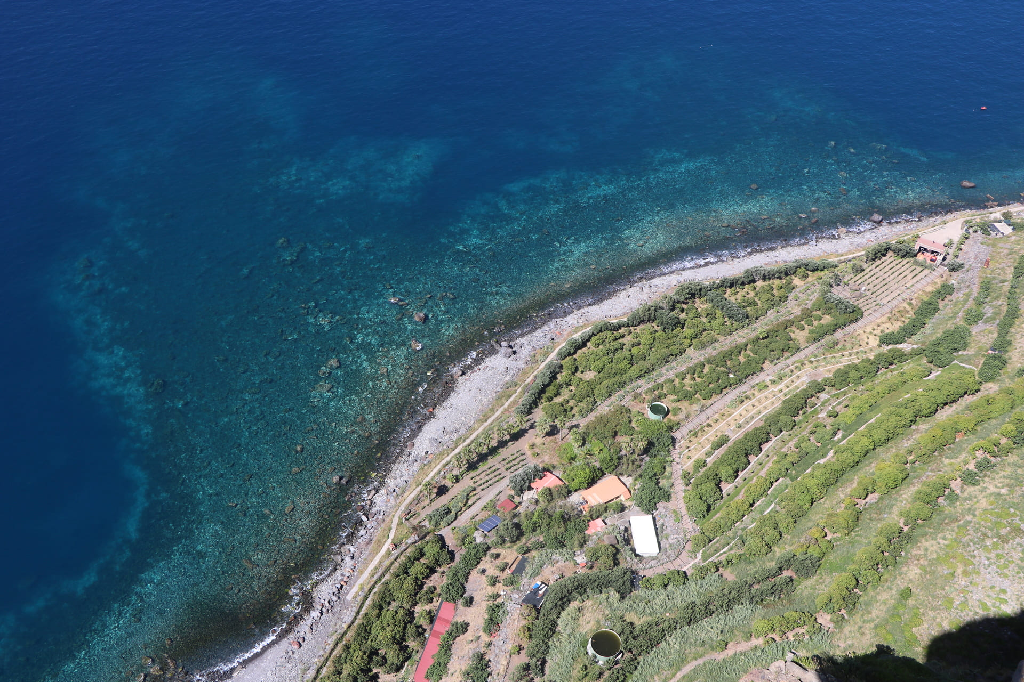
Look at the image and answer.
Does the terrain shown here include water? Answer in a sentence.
Yes, water shows up in the scene.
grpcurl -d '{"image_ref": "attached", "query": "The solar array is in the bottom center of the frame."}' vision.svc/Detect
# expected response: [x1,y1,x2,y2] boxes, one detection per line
[478,513,501,533]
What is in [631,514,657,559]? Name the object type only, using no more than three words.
building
